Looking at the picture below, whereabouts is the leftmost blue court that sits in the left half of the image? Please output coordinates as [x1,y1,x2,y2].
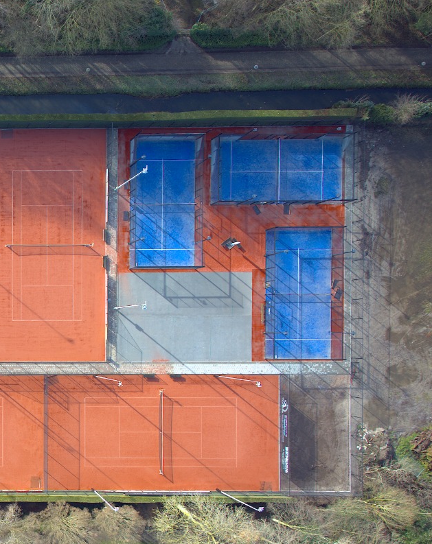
[130,133,211,268]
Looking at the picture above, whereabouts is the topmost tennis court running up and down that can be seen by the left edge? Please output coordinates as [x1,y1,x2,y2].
[0,129,107,363]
